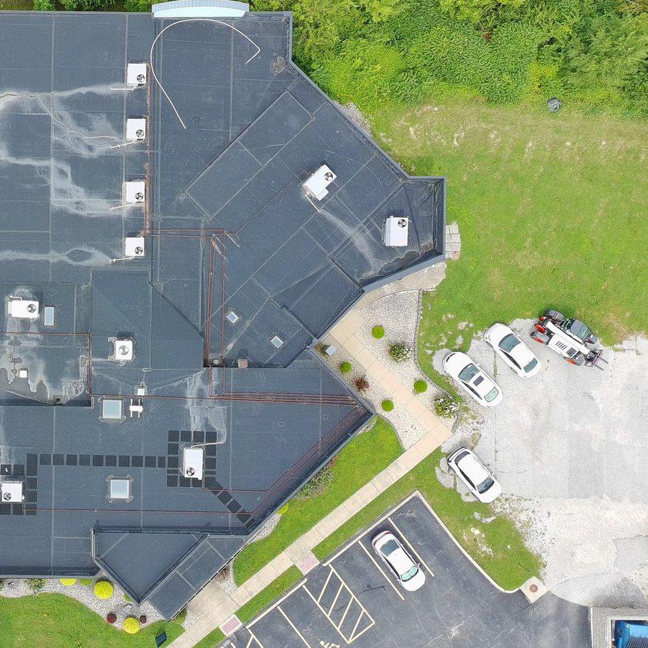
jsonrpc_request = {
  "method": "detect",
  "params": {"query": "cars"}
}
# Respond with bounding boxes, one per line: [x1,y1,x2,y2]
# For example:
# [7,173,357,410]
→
[368,526,427,593]
[443,444,503,505]
[477,319,545,382]
[439,347,506,411]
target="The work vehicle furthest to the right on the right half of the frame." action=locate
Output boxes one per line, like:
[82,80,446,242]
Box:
[523,304,602,374]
